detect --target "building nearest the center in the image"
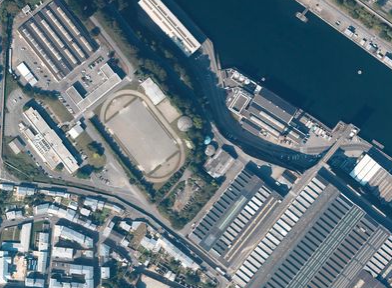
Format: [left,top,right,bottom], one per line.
[203,149,233,178]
